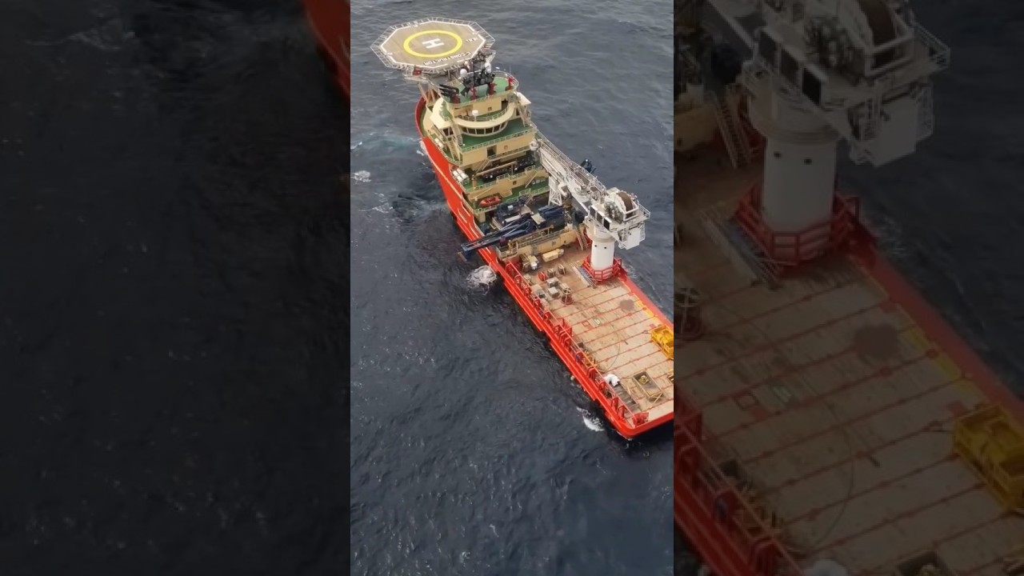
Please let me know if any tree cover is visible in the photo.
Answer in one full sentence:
No, the picture contains no tree cover.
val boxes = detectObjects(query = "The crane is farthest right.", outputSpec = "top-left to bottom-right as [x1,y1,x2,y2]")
[529,135,653,281]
